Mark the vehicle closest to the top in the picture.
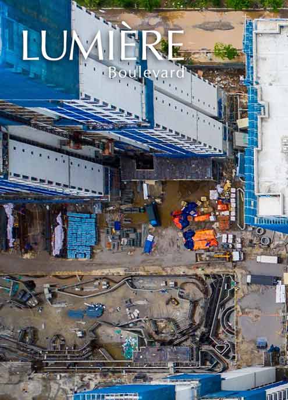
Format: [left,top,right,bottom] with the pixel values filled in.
[141,199,158,226]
